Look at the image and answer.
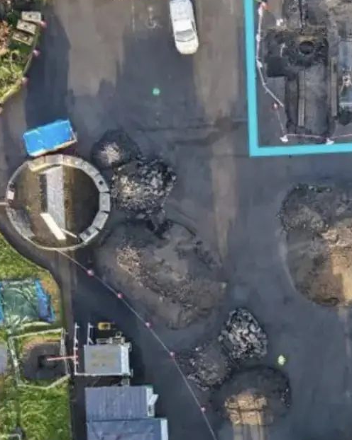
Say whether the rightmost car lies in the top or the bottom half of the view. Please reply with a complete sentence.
It is in the top half that the rightmost car appears.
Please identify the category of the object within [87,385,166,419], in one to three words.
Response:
building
